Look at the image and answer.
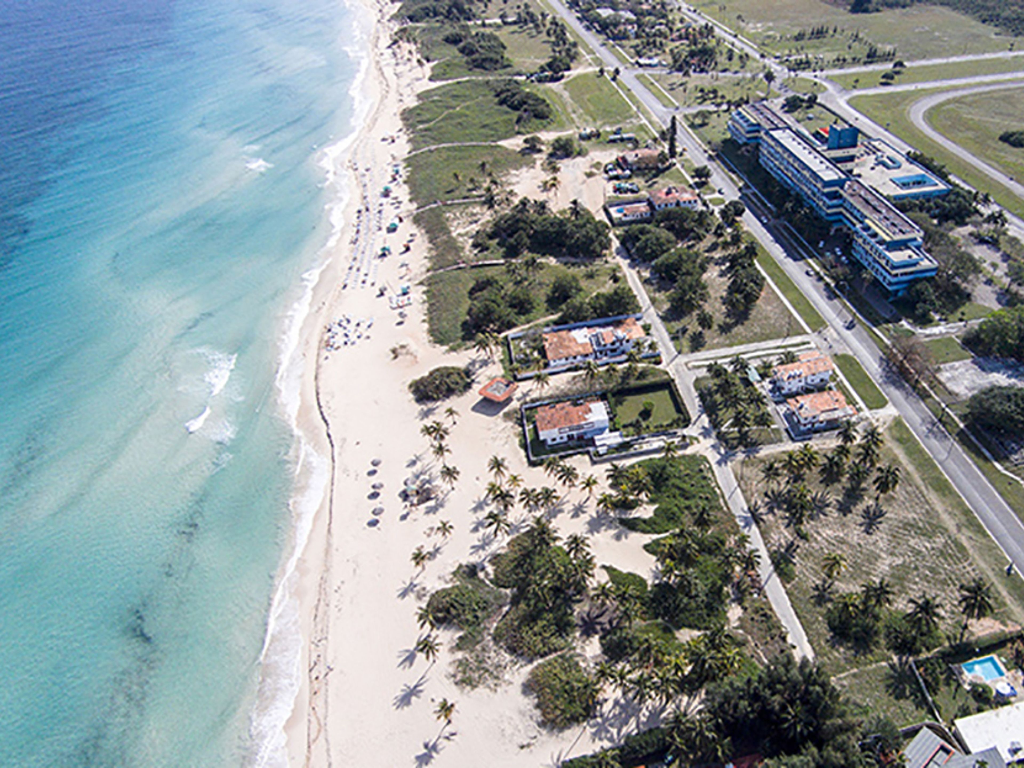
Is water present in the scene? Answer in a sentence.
Yes, water can be seen from above here.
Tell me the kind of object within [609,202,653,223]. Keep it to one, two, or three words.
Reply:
shed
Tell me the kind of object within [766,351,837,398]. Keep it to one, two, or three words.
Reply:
house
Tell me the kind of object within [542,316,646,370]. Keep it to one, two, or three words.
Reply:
house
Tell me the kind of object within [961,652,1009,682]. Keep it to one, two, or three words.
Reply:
swimming pool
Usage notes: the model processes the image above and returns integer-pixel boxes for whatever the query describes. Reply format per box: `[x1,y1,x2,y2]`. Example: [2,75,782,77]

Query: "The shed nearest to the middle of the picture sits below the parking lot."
[479,379,517,406]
